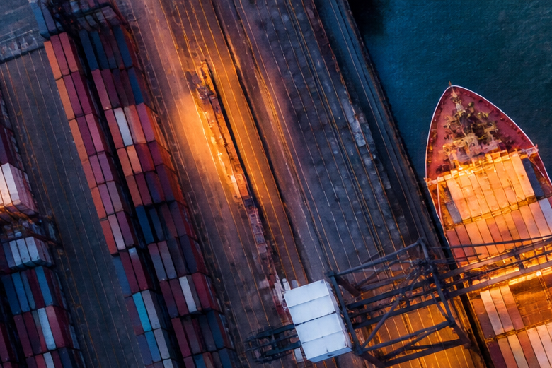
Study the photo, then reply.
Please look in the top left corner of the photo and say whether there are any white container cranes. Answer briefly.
No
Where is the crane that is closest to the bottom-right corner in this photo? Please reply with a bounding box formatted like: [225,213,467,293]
[246,225,552,368]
